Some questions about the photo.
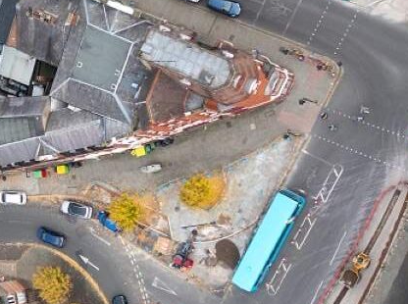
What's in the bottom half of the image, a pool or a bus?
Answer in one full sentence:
There is a bus in the bottom half of the image.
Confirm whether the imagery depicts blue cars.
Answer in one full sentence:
Yes, the frame does contain a blue car.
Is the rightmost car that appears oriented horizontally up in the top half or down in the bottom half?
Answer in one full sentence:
It is in the top half that the rightmost car that appears oriented horizontally appears.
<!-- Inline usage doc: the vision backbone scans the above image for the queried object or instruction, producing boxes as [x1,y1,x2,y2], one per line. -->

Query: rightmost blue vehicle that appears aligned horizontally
[205,0,244,20]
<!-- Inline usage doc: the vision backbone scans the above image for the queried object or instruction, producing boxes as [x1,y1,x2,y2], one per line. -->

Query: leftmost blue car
[37,226,67,246]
